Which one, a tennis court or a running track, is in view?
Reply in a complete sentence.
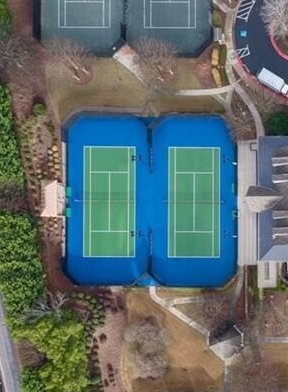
It is a tennis court that can be seen here.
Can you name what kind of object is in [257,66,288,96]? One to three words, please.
truck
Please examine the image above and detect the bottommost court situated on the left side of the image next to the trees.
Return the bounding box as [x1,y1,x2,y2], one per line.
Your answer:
[68,114,151,286]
